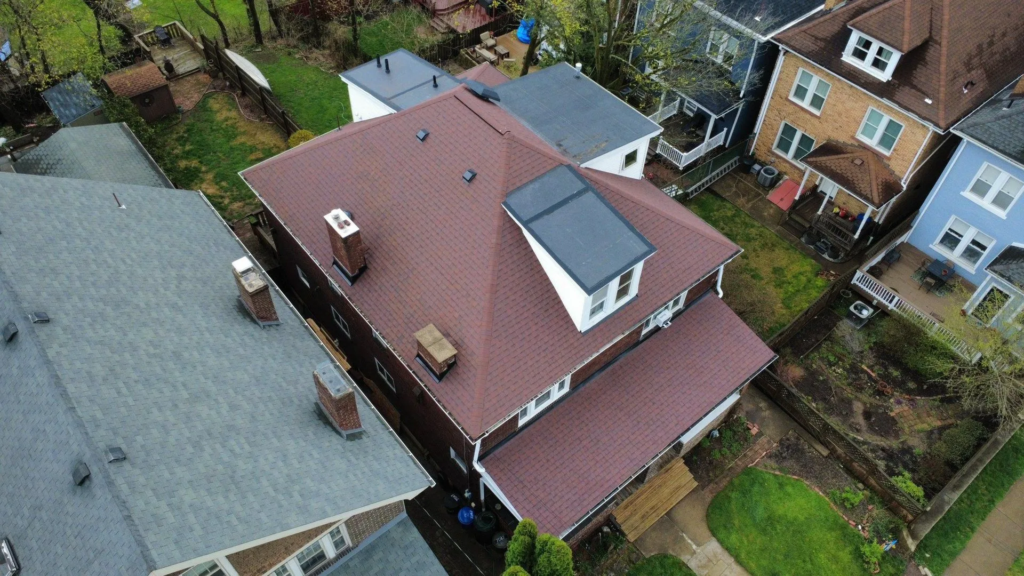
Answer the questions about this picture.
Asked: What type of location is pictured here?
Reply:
residential area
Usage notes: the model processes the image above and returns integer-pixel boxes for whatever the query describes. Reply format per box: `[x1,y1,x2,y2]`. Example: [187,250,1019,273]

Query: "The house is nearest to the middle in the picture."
[237,48,778,554]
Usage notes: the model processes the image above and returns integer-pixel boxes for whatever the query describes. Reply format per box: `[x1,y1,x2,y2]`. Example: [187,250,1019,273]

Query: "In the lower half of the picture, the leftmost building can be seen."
[0,171,451,576]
